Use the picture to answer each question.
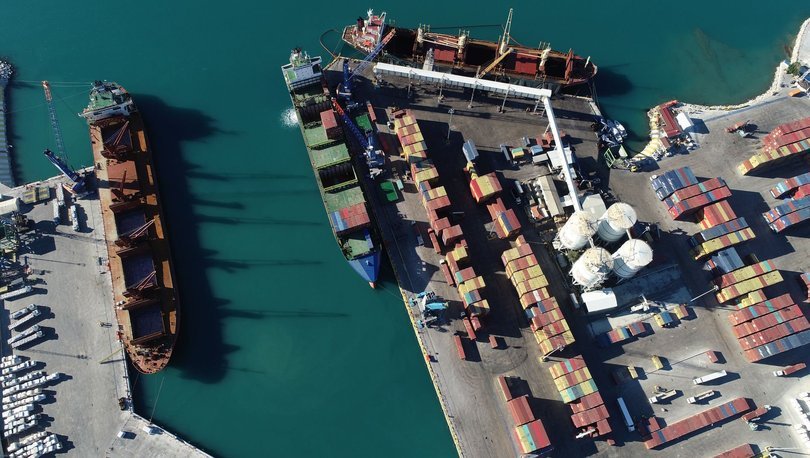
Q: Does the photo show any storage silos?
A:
Yes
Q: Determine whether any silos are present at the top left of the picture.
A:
No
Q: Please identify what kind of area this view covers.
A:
port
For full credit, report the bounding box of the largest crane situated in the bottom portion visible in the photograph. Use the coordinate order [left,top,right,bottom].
[410,278,454,326]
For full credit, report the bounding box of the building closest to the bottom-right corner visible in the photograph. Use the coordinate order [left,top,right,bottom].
[576,284,619,317]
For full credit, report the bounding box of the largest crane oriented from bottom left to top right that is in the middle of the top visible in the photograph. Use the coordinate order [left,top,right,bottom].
[330,28,396,108]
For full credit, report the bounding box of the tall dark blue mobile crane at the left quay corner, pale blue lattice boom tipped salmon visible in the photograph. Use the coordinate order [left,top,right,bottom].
[40,81,95,203]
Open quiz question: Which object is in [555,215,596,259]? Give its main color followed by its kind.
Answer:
white silo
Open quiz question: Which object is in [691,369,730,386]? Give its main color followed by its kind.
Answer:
white vehicle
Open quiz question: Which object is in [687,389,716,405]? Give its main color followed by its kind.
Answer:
white vehicle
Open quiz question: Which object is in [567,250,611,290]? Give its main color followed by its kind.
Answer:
white silo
